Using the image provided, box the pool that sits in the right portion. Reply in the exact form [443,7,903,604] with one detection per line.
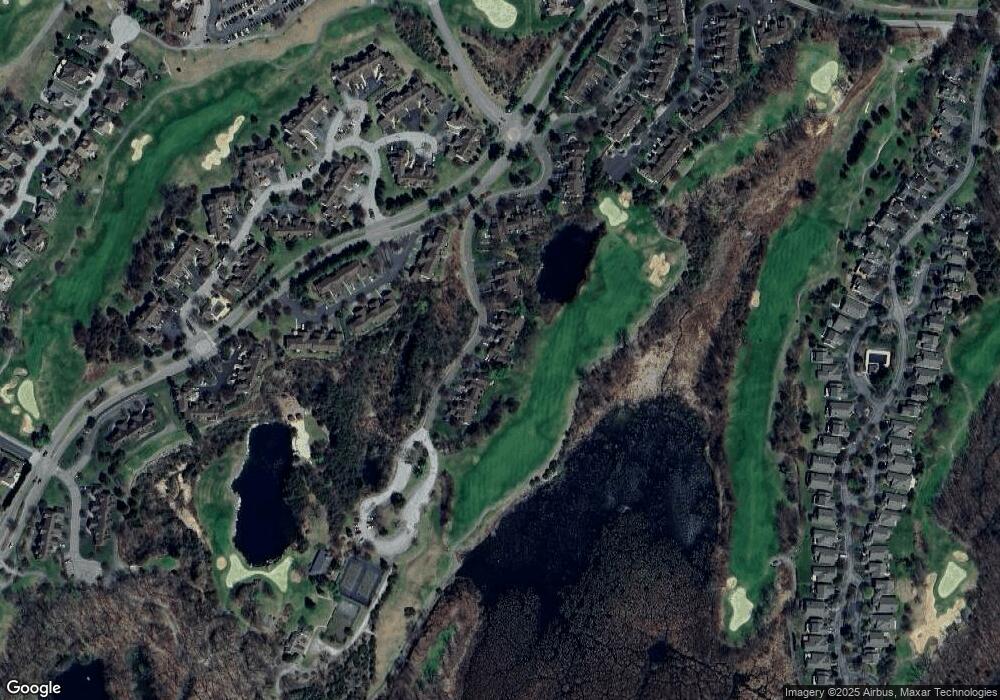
[865,348,891,375]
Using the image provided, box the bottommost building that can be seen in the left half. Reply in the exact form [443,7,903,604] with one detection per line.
[289,630,311,653]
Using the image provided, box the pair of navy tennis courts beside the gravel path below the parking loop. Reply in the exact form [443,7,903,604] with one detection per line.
[340,557,382,605]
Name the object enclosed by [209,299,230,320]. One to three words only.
swimming pool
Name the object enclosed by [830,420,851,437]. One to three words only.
house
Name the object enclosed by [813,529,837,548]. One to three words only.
house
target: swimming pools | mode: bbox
[209,299,230,320]
[865,348,891,375]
